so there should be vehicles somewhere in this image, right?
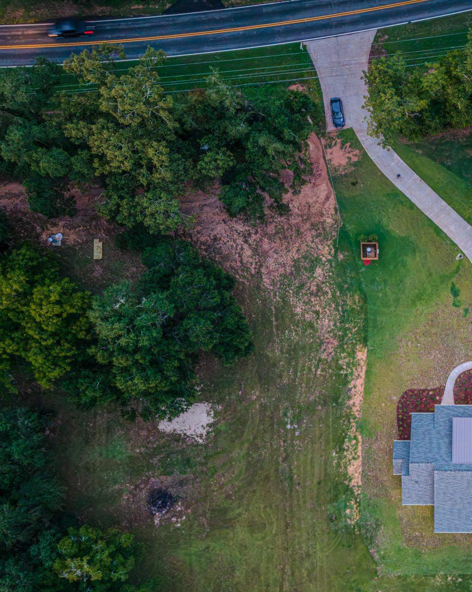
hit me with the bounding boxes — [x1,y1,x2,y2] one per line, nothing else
[331,96,346,129]
[53,21,91,37]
